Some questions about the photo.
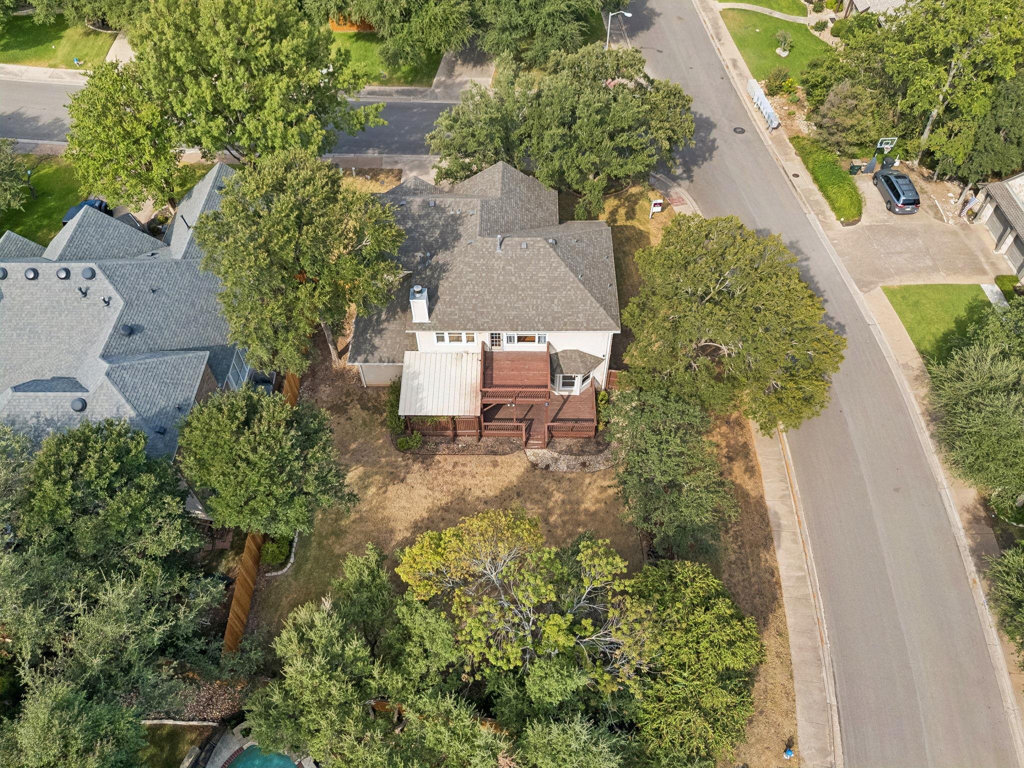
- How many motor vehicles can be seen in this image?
2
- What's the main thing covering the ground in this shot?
trees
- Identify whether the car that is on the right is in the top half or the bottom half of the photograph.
top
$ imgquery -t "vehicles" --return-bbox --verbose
[875,164,922,210]
[60,193,139,224]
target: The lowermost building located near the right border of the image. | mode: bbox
[966,170,1024,275]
